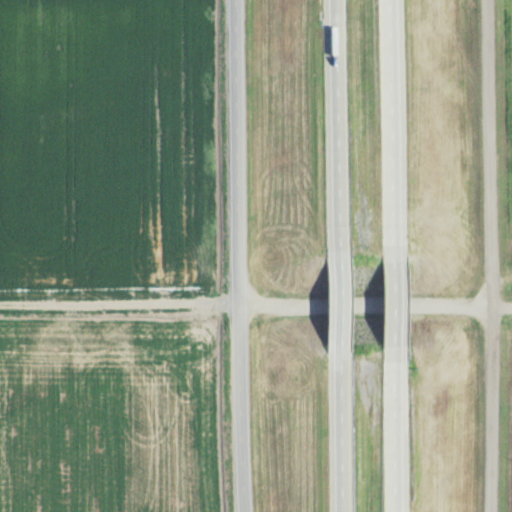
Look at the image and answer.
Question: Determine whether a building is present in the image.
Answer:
No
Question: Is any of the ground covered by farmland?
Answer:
Yes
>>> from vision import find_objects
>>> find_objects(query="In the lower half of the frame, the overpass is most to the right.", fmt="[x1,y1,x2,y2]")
[382,256,410,359]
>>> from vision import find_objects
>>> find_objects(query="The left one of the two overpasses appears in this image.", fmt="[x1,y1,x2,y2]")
[326,256,353,359]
